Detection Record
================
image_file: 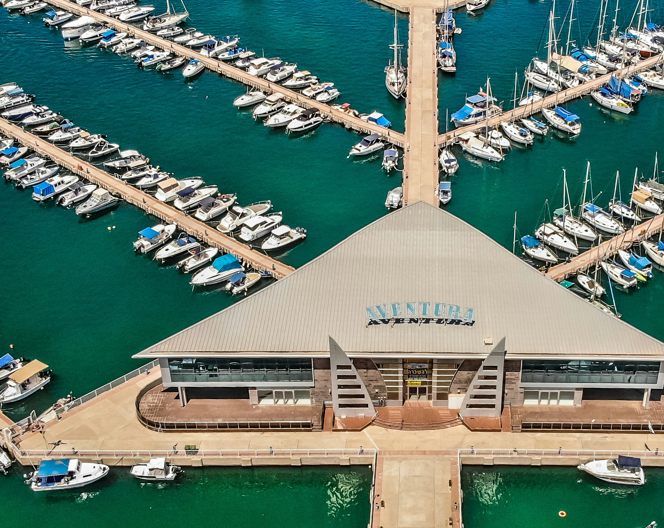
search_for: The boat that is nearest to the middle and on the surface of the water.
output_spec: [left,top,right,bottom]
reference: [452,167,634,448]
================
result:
[261,229,311,253]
